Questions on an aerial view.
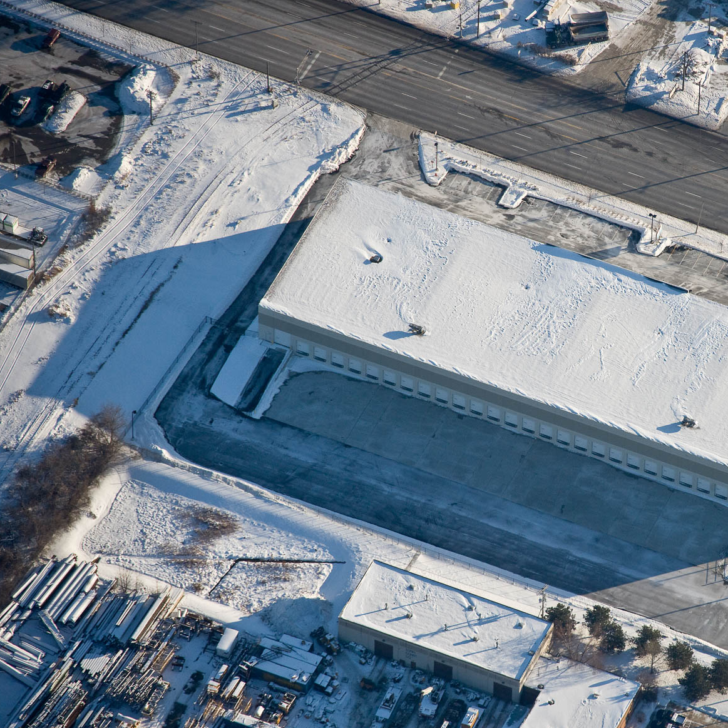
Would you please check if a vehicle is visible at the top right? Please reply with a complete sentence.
Yes, I can see a vehicle at the top right.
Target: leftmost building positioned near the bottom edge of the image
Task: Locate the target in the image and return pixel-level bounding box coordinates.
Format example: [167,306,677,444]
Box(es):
[338,540,565,700]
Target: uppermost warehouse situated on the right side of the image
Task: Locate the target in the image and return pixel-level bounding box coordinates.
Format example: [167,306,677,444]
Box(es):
[257,177,728,503]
